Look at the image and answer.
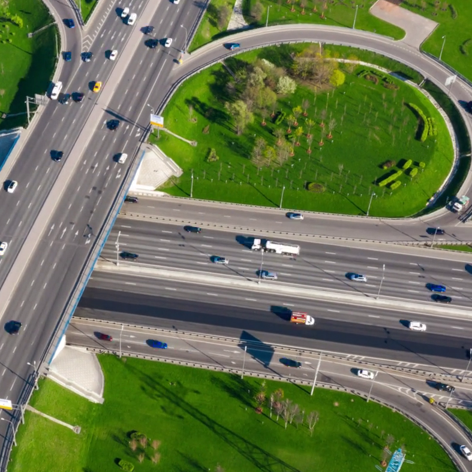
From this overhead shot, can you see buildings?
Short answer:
No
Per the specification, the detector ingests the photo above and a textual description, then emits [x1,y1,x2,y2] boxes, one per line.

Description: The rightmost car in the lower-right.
[459,445,472,461]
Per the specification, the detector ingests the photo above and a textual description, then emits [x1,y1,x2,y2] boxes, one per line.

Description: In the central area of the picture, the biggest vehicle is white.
[249,239,300,257]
